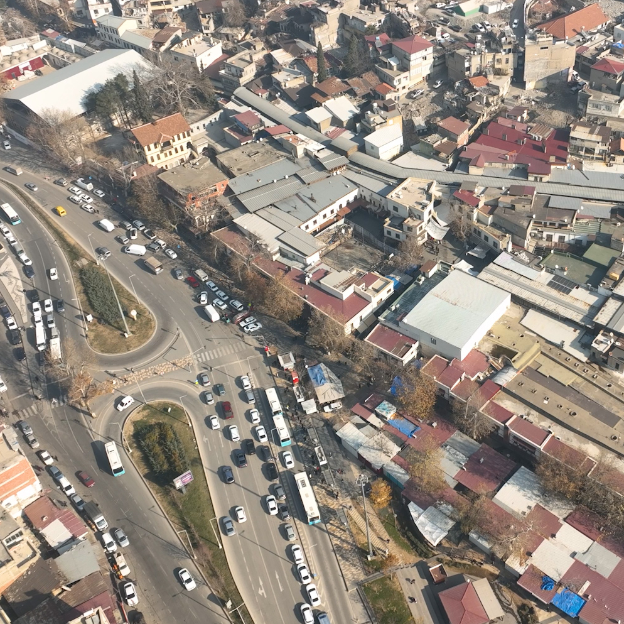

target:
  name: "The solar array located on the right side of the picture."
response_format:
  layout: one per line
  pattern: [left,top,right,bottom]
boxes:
[547,277,576,297]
